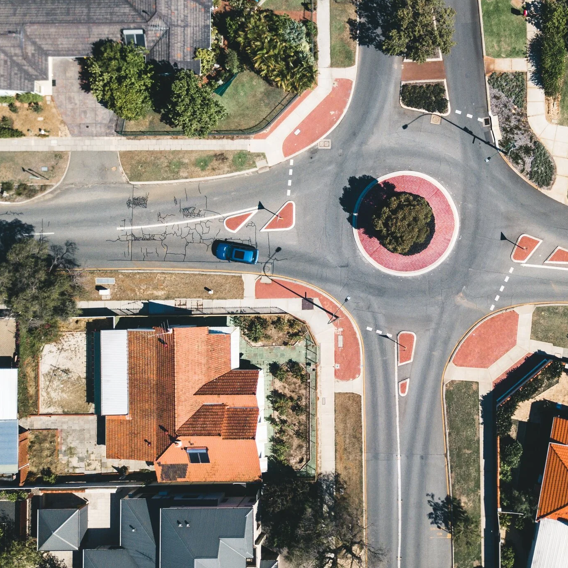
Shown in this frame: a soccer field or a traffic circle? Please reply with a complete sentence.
It is a traffic circle that can be seen here.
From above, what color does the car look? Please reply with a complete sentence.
The color of the car is blue.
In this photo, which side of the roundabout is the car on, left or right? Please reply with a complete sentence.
The car is to the left of the roundabout.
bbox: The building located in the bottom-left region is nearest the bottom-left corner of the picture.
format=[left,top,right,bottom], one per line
[36,501,89,551]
